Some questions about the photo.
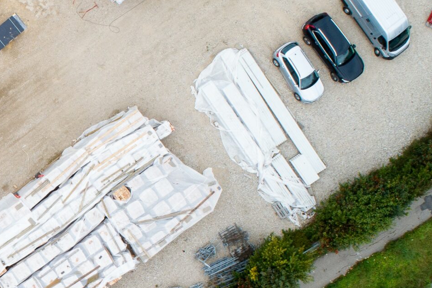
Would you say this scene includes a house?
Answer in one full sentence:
No, there is no house in the image.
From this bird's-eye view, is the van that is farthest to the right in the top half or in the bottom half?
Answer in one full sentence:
Seen from above, the van that is farthest to the right lies in the top half of the view.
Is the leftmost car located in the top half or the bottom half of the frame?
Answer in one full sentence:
It is in the top half that the leftmost car appears.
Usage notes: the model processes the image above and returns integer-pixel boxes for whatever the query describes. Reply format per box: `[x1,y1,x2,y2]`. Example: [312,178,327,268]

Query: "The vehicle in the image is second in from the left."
[304,11,367,87]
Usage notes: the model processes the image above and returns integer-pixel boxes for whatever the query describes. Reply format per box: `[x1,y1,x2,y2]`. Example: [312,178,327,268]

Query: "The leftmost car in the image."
[273,38,326,104]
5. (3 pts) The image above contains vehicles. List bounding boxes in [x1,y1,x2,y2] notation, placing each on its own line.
[273,38,326,104]
[345,0,417,65]
[304,11,367,87]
